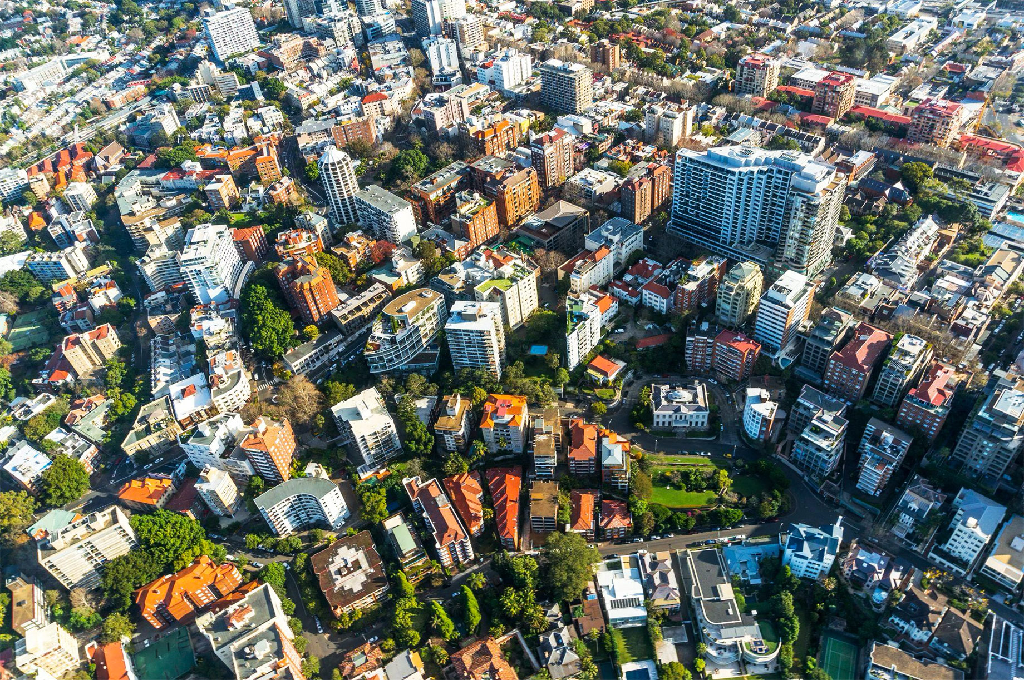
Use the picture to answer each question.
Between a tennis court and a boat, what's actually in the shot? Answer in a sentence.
This aerial view contains a tennis court.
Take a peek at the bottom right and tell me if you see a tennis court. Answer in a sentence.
Yes, I can see a tennis court at the bottom right.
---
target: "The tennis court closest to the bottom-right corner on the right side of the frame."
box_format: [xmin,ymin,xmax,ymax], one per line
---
[815,625,868,680]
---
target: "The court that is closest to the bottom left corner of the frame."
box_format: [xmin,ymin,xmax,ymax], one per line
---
[127,628,198,680]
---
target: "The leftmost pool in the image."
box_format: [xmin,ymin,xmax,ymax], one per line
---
[528,344,550,356]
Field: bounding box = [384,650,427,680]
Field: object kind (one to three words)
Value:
house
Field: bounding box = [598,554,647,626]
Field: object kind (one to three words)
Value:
house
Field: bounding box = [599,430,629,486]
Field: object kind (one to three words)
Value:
building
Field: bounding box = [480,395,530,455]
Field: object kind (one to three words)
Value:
building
